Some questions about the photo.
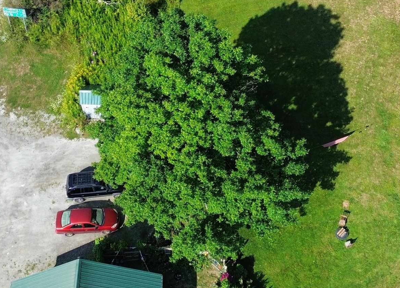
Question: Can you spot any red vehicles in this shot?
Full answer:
Yes, a red vehicle appears in the view.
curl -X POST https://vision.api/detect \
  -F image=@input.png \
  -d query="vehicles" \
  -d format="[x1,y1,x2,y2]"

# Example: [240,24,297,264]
[54,205,120,238]
[62,170,123,201]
